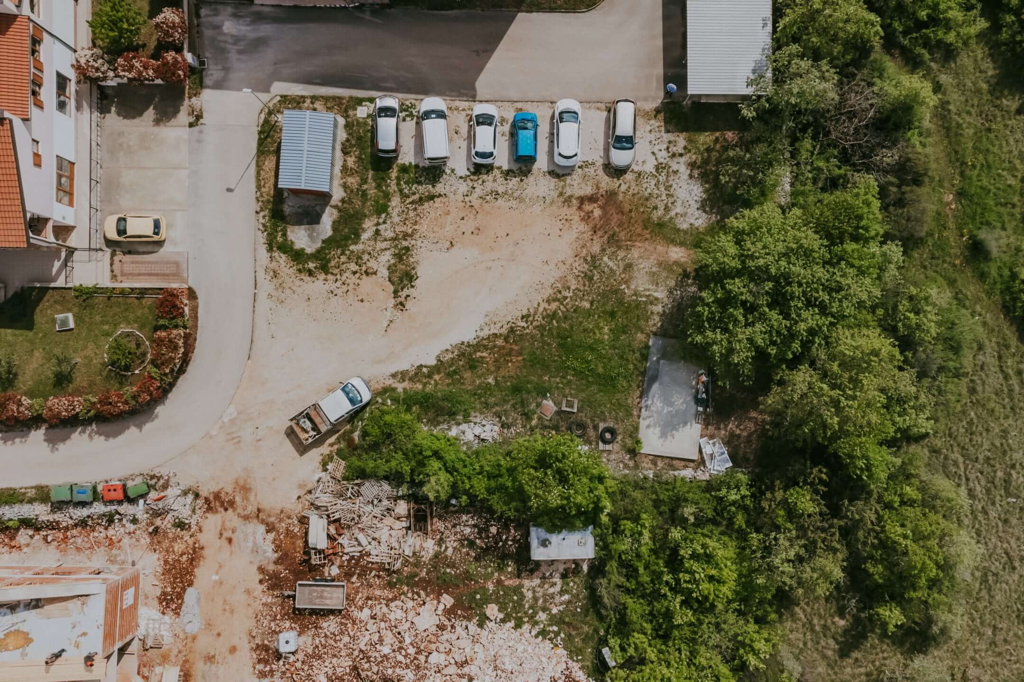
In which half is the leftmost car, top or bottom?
top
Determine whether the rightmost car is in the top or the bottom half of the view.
top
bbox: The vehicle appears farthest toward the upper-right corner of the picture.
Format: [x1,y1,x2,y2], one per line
[608,98,641,168]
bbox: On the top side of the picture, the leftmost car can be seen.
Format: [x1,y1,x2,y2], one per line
[100,212,165,244]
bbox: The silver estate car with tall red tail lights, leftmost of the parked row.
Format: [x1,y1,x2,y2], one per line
[371,96,403,160]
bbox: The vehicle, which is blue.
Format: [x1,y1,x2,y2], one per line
[511,111,540,163]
